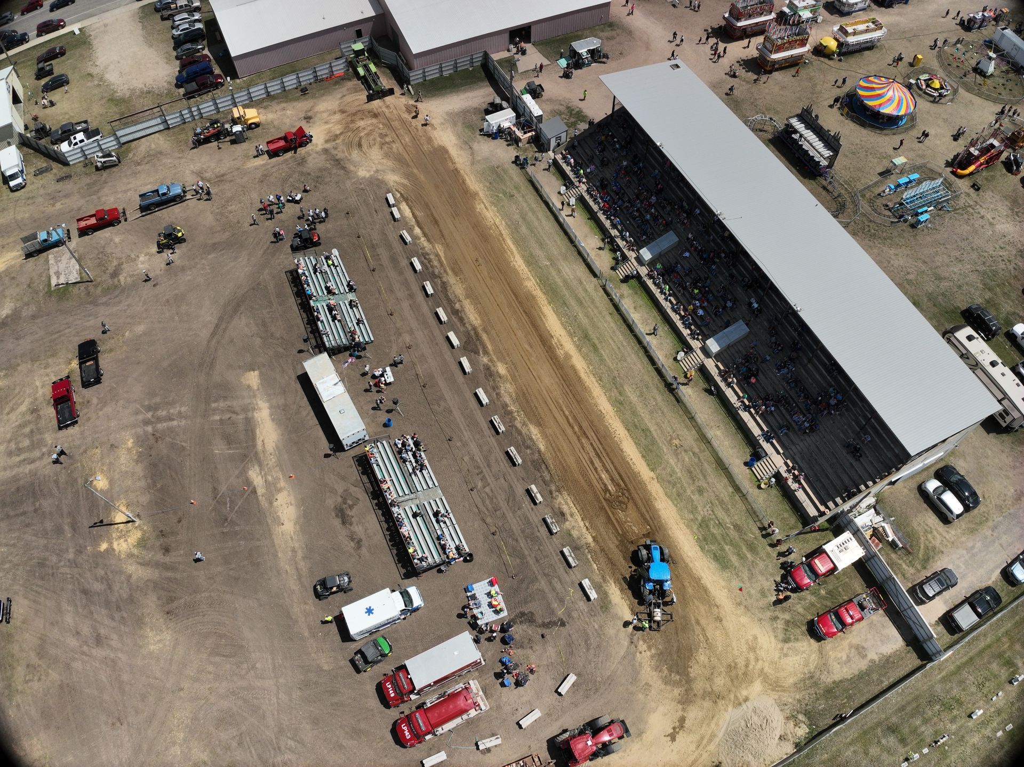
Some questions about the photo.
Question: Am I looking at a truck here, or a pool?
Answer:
truck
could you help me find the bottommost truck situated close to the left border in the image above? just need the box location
[0,599,21,623]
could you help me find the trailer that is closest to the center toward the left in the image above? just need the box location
[307,353,370,458]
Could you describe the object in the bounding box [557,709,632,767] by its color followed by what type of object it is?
red work vehicle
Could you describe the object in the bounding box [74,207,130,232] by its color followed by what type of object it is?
red truck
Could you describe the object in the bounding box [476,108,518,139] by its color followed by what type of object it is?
white trailer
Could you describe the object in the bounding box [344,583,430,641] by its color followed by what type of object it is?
white van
